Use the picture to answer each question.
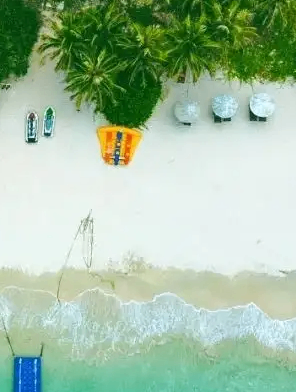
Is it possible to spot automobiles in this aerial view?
No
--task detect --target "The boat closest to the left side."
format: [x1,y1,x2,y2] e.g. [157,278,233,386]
[26,109,39,143]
